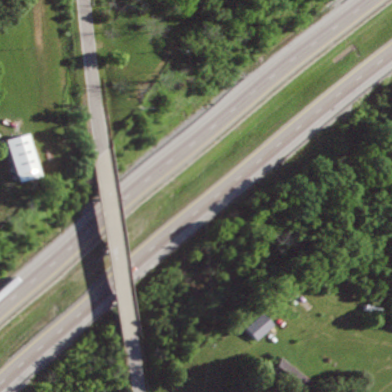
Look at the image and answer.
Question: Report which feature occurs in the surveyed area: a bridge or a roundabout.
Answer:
bridge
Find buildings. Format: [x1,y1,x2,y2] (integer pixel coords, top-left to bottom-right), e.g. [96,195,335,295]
[8,132,43,183]
[278,358,308,383]
[248,314,274,340]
